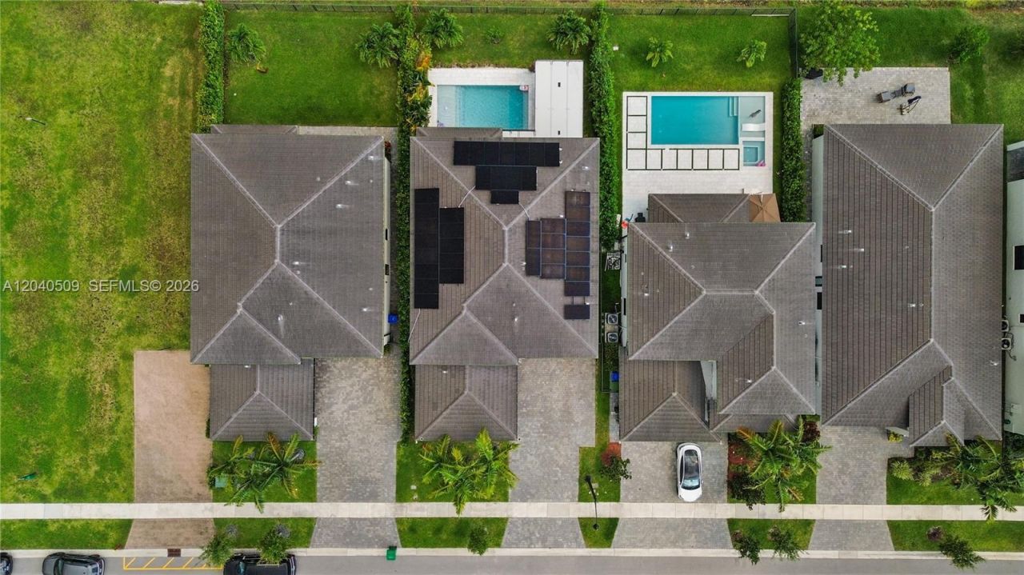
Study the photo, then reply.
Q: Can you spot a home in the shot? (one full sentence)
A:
Yes, the frame does contain a home.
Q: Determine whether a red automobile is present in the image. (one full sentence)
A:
No, I can't see a single red automobile in this photo.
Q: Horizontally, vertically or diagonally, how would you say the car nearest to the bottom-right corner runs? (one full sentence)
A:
In this picture, the car nearest to the bottom-right corner is oriented vertically.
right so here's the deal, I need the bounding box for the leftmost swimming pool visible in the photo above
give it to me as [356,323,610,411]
[433,81,532,131]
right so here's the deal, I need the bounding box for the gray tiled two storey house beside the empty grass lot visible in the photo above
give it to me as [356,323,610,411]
[189,124,398,442]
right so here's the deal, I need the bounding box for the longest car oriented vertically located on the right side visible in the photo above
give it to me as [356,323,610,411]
[677,443,707,503]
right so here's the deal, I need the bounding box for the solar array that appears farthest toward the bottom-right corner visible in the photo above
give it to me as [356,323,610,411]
[565,305,590,319]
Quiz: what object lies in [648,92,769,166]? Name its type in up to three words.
swimming pool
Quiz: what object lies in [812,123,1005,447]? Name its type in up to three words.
house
